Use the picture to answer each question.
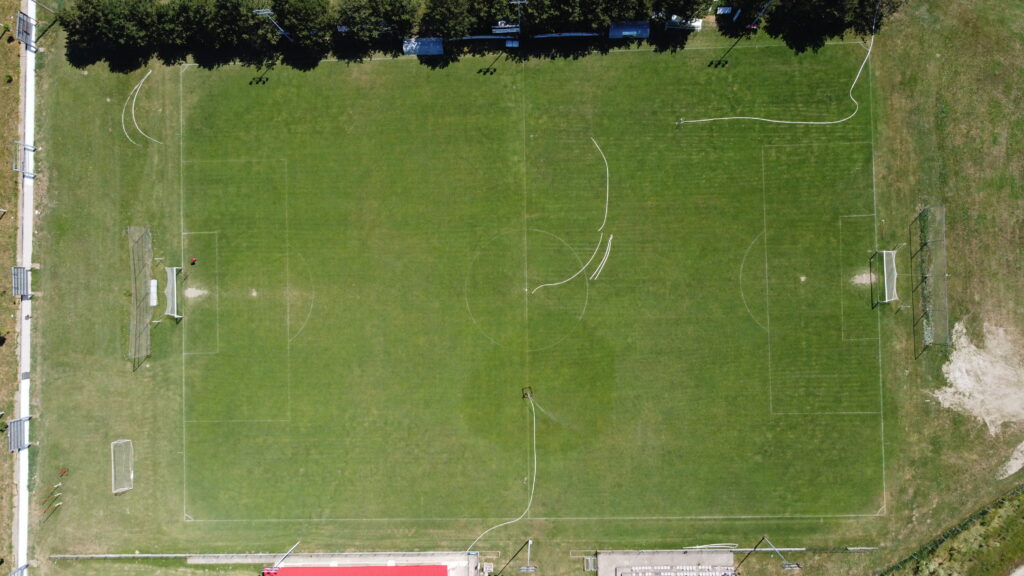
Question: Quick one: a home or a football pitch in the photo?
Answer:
football pitch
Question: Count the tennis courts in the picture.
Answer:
none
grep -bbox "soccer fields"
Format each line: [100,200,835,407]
[180,41,886,535]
